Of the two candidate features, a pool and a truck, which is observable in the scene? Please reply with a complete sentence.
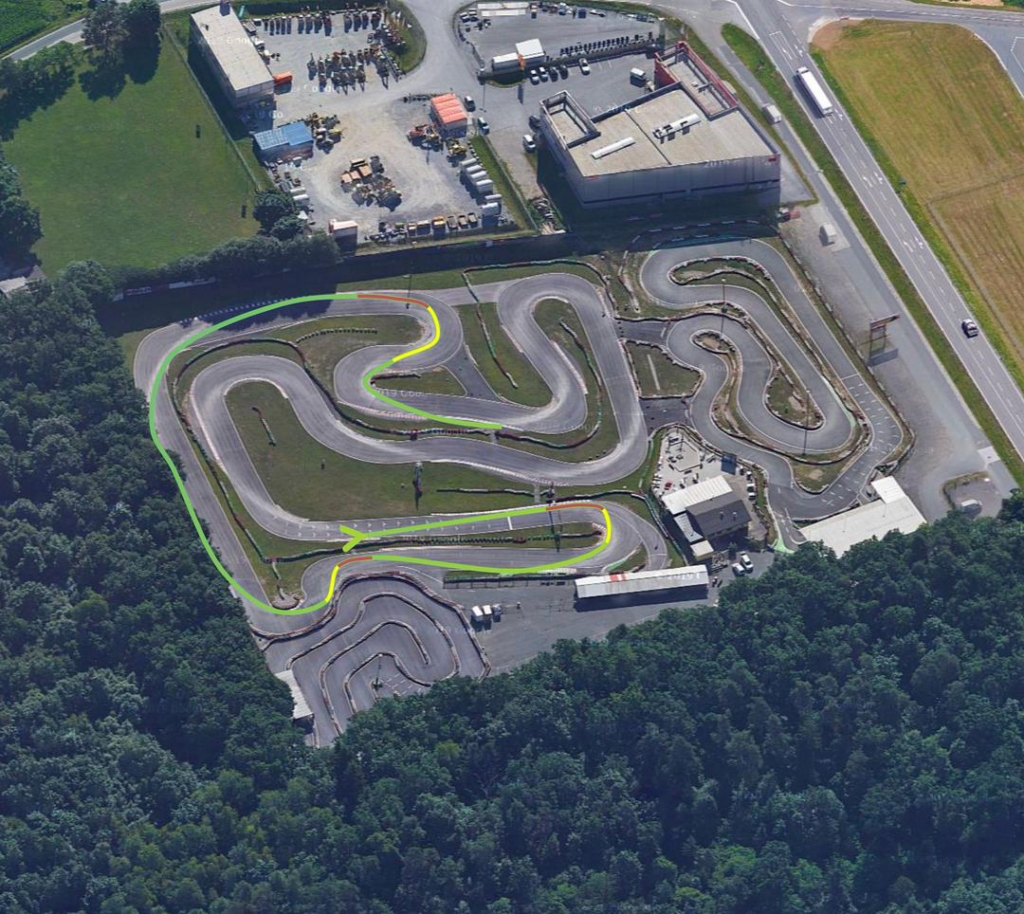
It is a truck that can be seen here.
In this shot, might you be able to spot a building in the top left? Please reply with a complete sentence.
Yes, I can see a building in the top left.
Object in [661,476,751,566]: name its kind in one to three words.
building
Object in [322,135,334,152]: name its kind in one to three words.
vehicle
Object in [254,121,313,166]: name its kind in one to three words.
shed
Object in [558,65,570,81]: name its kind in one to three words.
vehicle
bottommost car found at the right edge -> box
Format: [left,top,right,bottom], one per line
[962,321,978,336]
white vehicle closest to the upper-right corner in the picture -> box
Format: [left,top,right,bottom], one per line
[794,64,836,114]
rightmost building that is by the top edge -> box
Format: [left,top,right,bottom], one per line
[540,41,779,215]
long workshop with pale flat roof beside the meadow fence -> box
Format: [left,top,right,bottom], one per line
[191,2,274,115]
